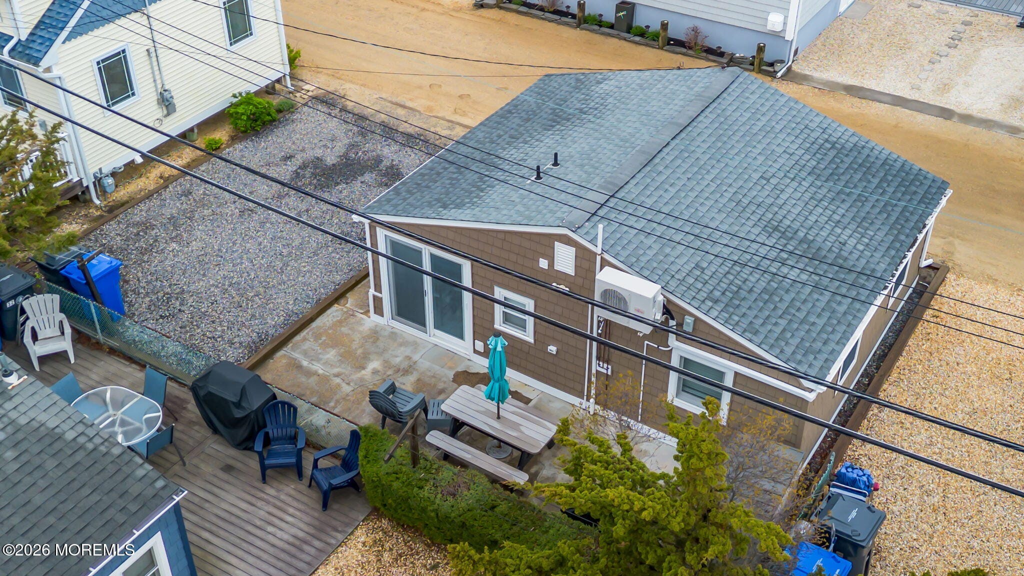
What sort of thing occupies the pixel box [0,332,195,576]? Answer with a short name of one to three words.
house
